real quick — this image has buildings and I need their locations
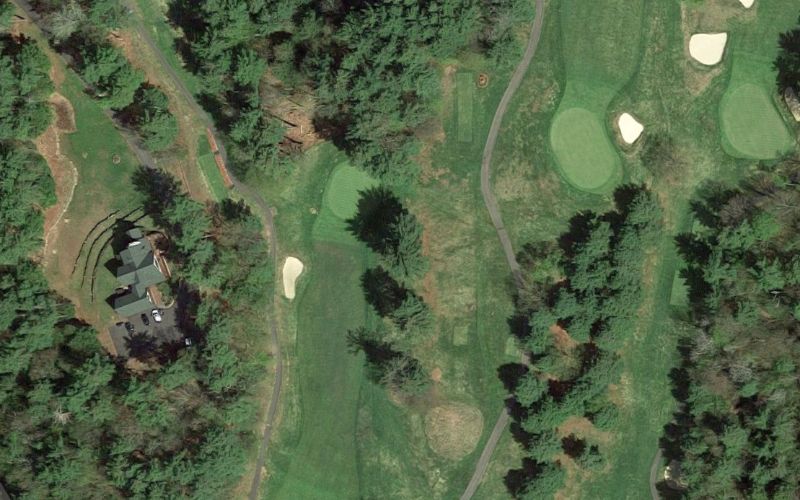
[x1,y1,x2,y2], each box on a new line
[112,229,171,319]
